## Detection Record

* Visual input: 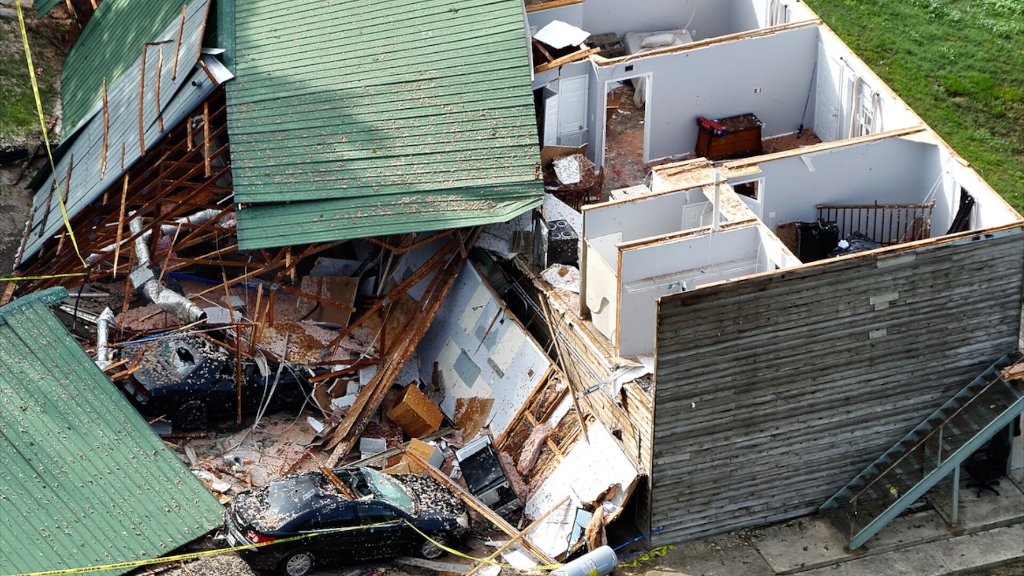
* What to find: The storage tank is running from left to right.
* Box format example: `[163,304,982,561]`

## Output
[535,544,614,576]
